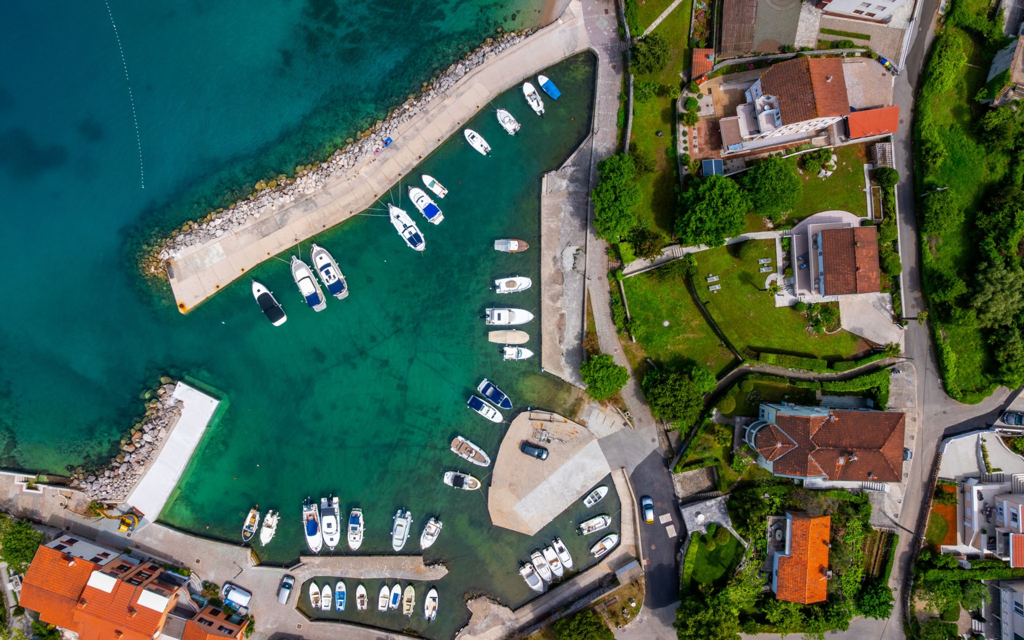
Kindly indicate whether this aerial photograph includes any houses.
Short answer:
Yes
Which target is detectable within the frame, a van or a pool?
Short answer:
van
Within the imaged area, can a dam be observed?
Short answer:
No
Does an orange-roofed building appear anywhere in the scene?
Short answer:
Yes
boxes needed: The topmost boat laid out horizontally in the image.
[493,237,529,253]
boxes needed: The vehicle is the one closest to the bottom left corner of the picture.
[95,504,146,533]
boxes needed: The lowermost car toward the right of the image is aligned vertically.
[639,495,653,524]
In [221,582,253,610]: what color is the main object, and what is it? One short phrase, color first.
white van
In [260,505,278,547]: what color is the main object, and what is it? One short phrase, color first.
white boat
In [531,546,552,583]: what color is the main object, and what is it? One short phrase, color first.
white boat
